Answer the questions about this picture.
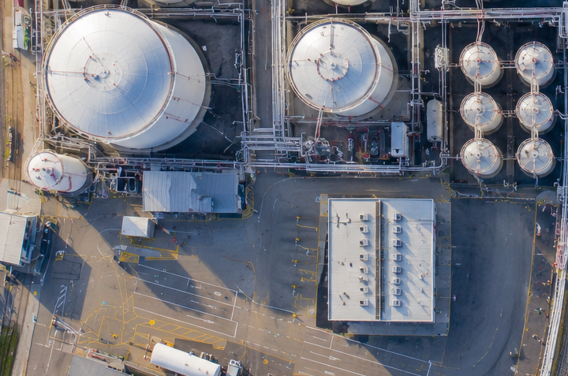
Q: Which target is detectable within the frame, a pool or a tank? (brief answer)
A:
tank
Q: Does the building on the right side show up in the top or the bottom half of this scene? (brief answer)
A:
bottom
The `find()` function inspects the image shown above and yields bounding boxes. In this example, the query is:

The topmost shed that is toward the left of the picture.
[142,171,245,220]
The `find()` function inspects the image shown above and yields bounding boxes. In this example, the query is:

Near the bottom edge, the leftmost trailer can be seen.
[148,345,221,376]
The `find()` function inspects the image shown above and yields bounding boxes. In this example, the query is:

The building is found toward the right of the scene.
[327,197,438,323]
